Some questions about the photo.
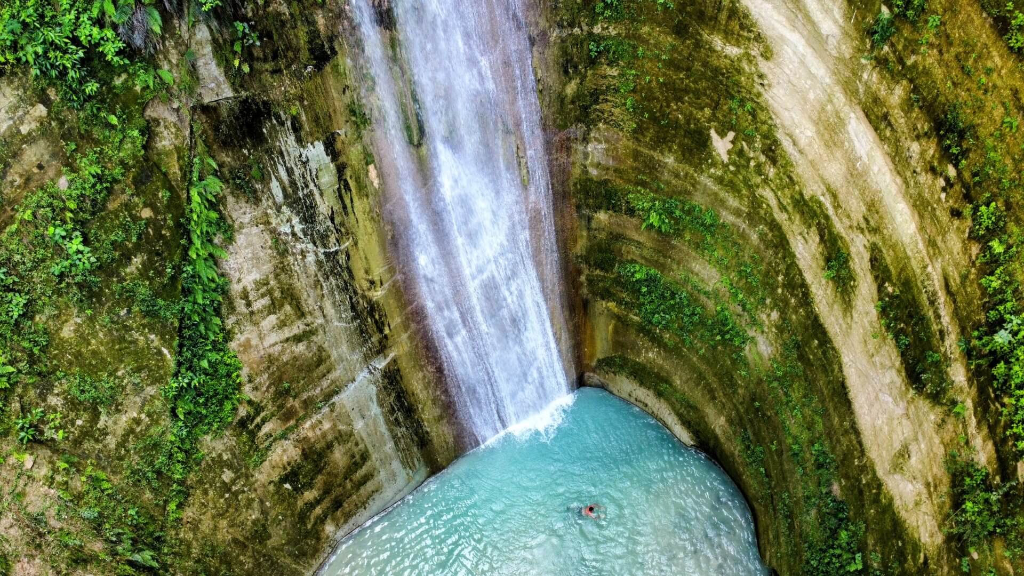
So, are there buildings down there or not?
No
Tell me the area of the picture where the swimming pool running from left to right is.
bottom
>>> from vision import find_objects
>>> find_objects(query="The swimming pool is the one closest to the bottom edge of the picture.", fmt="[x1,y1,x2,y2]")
[316,387,774,576]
